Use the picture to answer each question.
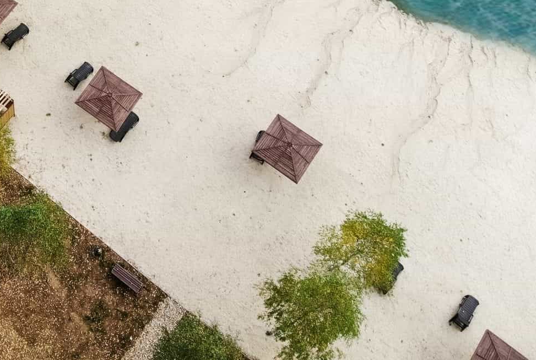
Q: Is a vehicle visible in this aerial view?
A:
No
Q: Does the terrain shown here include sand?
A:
Yes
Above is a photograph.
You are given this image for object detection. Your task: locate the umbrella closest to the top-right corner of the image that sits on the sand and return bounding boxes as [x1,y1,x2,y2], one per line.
[252,113,323,183]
